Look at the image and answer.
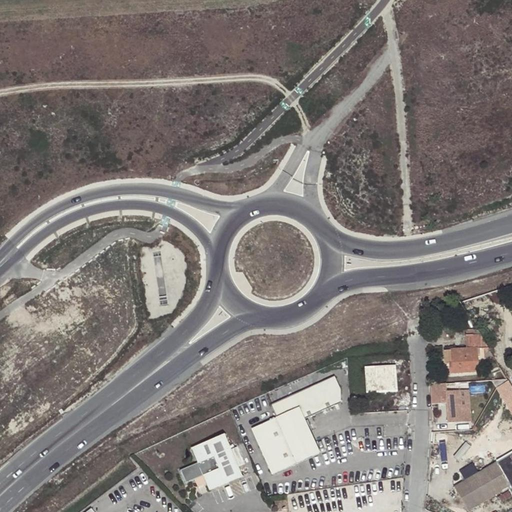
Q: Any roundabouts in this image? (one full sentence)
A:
Yes, the frame does contain a roundabout.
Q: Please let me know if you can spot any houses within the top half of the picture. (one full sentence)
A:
No, no house can be made out within the top half of the picture.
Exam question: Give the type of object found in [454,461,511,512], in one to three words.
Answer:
barn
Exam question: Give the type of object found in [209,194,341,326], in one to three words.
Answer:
roundabout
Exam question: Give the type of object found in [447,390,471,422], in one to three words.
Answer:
house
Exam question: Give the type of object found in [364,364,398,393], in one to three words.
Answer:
building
